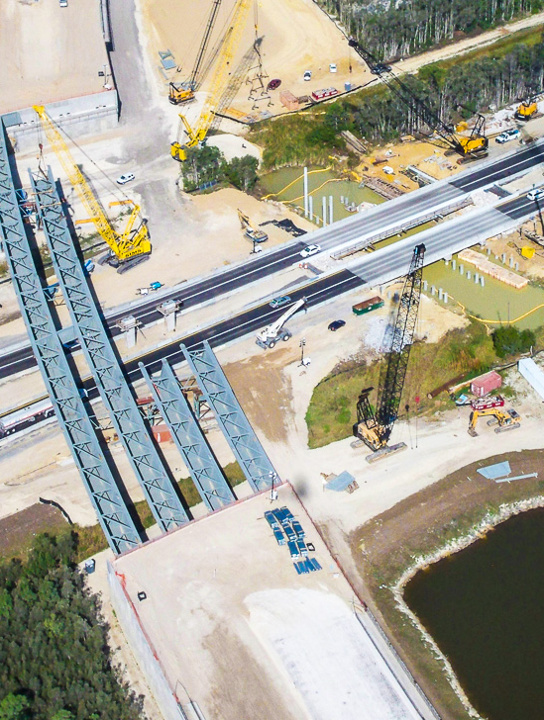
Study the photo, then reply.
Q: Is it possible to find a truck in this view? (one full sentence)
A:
Yes, there's a truck here.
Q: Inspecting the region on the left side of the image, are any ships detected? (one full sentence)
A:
No, no ship appears on the left side of the image.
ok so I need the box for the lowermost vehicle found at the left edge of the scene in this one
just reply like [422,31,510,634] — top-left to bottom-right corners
[1,391,67,431]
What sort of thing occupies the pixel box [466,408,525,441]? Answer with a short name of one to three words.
work vehicle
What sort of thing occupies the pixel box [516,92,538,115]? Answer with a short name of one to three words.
work vehicle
